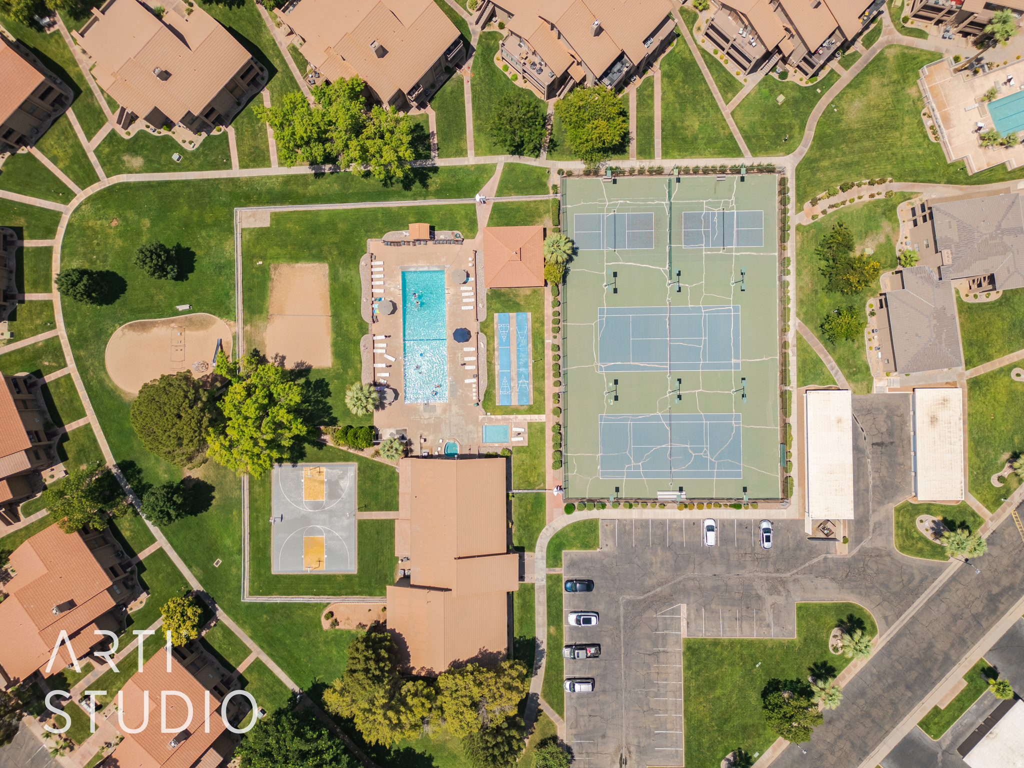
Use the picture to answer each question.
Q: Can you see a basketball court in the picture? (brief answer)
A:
Yes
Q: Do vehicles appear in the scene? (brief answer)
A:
Yes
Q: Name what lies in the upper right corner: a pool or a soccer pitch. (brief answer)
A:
pool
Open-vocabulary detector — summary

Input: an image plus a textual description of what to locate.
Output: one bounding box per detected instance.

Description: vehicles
[565,581,594,595]
[569,613,599,628]
[760,521,775,550]
[565,680,595,696]
[704,519,718,547]
[565,645,601,661]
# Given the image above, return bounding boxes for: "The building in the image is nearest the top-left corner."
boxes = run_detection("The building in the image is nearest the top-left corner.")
[0,38,70,161]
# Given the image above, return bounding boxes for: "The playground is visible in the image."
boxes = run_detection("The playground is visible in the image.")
[104,312,234,396]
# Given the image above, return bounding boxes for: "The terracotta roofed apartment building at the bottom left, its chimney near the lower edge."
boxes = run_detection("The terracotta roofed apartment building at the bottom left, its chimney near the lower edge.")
[100,640,239,768]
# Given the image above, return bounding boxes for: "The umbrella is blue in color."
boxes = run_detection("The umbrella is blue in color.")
[452,327,469,344]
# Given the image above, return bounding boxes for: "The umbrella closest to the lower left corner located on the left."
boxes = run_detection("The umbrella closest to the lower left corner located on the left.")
[380,388,396,404]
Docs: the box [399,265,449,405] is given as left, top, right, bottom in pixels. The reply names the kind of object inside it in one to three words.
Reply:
swimming pool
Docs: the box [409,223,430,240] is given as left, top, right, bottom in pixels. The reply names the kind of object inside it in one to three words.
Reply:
shed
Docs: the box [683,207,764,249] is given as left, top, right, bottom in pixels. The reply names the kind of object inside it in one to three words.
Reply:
sports court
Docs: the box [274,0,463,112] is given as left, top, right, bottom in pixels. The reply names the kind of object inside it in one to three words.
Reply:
building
